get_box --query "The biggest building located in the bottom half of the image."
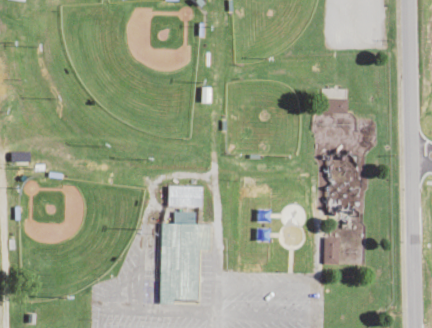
[161,222,212,303]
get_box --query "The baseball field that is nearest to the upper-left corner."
[62,0,199,138]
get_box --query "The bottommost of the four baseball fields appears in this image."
[20,177,144,299]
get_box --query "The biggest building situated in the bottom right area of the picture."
[324,238,340,264]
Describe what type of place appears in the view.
sports ground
